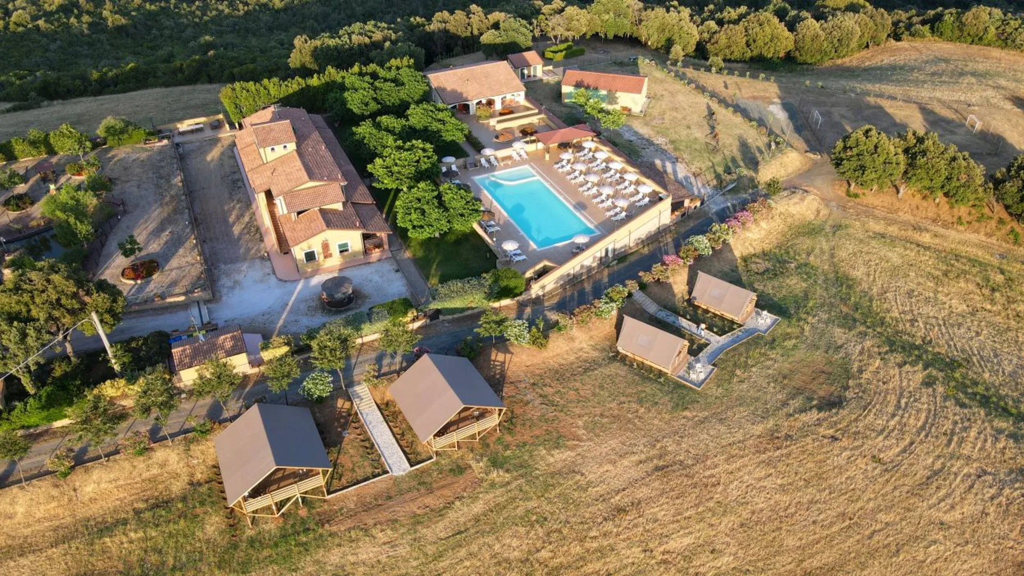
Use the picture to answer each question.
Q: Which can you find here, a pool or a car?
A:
pool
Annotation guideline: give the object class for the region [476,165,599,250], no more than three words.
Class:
swimming pool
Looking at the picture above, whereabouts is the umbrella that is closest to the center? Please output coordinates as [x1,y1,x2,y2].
[502,242,519,264]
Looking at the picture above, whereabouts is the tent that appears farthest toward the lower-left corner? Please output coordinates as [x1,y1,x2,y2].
[212,406,332,527]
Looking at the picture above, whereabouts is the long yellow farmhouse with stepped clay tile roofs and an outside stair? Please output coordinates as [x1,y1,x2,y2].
[237,100,392,272]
